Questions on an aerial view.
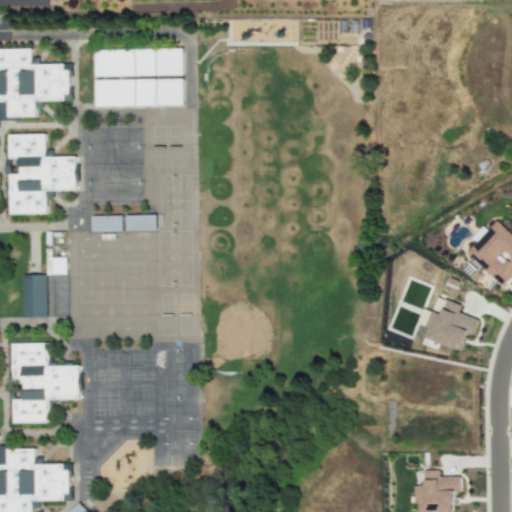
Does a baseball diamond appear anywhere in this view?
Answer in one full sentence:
Yes, the photo shows a baseball diamond.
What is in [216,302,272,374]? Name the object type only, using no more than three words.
baseball field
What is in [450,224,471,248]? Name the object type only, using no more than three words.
swimming pool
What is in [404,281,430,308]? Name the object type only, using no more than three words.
sports court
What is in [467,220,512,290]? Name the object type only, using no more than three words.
house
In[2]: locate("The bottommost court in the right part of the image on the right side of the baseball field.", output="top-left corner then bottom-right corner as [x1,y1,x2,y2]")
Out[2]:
[394,308,420,335]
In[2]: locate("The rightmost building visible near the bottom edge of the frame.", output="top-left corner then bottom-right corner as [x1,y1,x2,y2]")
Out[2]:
[414,470,462,512]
